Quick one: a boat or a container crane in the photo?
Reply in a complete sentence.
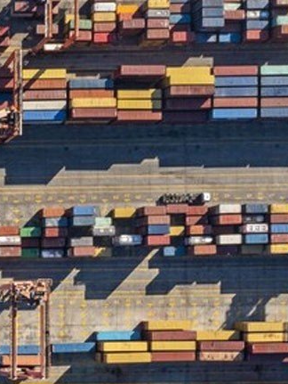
This aerial view contains a container crane.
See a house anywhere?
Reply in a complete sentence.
No, I can't see a single house in this photo.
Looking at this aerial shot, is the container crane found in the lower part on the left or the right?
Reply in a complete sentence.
The container crane found in the lower part is on the left side of the image.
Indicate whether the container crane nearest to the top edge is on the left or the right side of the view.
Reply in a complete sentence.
The container crane nearest to the top edge is on the left side of the image.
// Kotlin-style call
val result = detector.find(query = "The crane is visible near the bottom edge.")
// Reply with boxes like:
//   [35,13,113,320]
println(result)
[0,276,52,381]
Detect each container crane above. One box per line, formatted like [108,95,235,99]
[0,37,27,151]
[0,276,52,381]
[9,0,83,68]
